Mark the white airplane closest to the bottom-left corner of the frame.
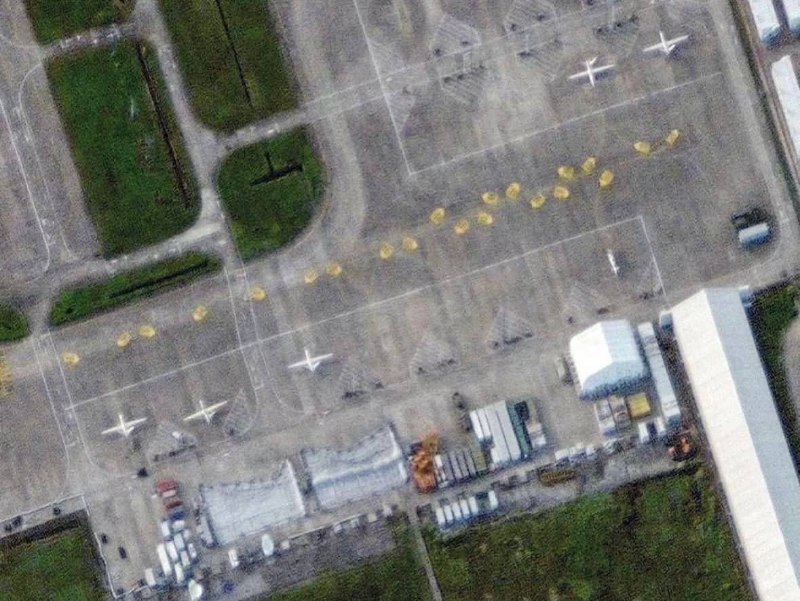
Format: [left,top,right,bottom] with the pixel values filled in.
[100,415,147,437]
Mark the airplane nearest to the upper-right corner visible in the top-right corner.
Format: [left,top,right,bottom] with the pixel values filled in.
[641,32,687,54]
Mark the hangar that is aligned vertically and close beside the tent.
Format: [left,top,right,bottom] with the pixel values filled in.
[667,288,800,601]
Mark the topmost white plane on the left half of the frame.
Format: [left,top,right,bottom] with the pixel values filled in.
[286,351,332,372]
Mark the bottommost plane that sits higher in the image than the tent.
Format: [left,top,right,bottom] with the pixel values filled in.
[608,250,620,276]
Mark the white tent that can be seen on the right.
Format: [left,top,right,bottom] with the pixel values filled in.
[569,322,645,392]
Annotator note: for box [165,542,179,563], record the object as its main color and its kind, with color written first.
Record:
white vehicle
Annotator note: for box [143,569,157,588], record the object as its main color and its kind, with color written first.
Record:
white vehicle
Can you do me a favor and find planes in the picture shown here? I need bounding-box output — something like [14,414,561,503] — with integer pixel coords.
[100,415,147,437]
[286,351,332,372]
[608,250,620,276]
[182,402,228,424]
[568,55,614,86]
[641,32,687,54]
